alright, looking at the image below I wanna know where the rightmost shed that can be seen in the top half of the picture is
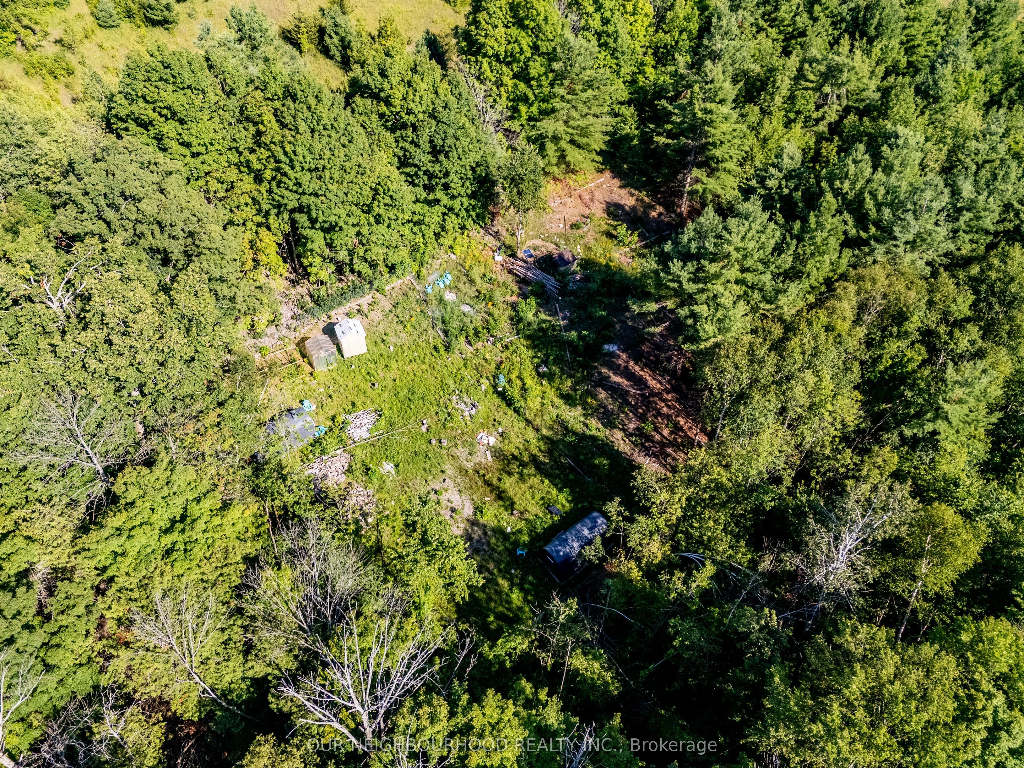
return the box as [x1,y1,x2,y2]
[550,249,579,276]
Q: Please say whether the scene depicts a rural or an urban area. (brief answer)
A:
rural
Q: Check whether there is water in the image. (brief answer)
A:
No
